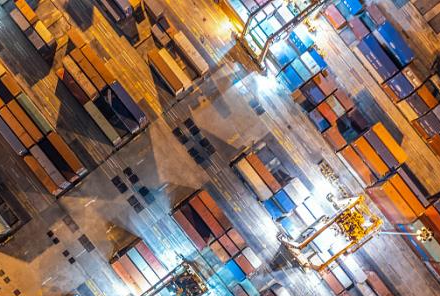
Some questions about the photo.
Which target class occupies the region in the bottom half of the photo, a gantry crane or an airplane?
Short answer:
gantry crane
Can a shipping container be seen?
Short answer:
Yes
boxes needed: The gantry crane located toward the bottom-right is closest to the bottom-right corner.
[277,193,383,275]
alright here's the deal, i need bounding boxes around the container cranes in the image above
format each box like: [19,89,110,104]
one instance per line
[122,252,213,296]
[230,0,325,70]
[277,193,383,275]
